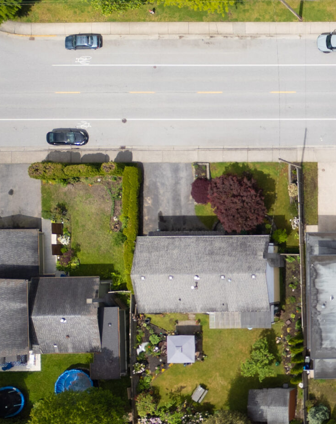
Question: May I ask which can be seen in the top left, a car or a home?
car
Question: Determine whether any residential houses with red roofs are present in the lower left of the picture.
No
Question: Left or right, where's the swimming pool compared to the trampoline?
right of it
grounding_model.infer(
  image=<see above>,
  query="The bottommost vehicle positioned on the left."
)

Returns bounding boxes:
[46,129,91,147]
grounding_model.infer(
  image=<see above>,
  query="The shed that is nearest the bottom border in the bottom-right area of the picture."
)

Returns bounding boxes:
[246,388,294,424]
